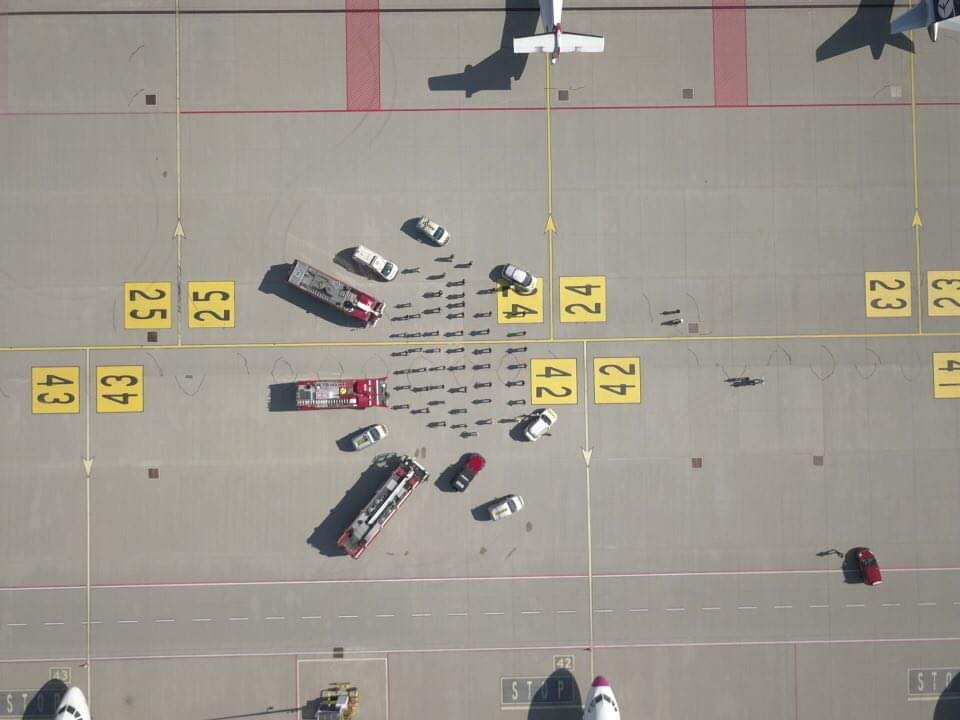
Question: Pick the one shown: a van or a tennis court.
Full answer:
The image shows a van.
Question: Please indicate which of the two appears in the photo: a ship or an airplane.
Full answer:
There is an airplane in the scene.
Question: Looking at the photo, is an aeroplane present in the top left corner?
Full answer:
No, I see no aeroplane in the top left corner.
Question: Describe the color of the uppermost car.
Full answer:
The color of the uppermost car is white.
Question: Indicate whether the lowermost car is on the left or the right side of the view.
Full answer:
You can find the lowermost car on the right side of the picture.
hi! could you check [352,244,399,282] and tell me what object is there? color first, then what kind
white van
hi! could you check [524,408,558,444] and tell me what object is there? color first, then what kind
white car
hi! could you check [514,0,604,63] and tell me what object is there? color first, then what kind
white airplane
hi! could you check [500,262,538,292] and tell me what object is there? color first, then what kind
white car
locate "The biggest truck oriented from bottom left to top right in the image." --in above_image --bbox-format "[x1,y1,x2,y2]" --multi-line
[337,455,428,562]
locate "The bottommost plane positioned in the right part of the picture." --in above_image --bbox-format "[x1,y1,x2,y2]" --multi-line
[584,676,621,720]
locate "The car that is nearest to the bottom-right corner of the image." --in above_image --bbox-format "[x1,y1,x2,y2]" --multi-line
[855,548,884,586]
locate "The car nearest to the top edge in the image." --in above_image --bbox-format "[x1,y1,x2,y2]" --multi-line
[415,214,451,247]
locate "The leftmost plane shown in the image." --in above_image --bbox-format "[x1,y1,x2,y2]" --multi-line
[54,687,95,720]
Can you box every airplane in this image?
[584,676,621,720]
[514,0,604,63]
[54,687,95,720]
[889,0,960,41]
